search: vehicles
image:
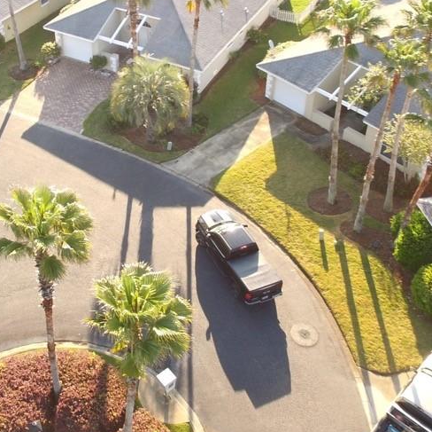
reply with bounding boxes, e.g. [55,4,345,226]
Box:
[367,361,432,432]
[195,214,285,311]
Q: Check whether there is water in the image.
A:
No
